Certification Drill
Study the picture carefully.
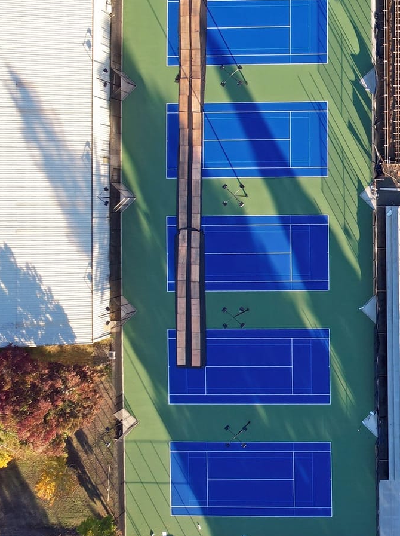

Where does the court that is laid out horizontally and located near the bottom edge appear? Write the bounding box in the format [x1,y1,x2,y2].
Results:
[170,441,332,517]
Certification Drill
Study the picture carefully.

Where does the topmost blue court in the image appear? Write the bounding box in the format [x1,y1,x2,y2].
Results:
[167,0,328,65]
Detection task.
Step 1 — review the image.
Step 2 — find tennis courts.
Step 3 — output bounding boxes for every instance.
[170,441,332,517]
[166,100,328,179]
[167,0,328,65]
[168,328,331,405]
[167,215,329,292]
